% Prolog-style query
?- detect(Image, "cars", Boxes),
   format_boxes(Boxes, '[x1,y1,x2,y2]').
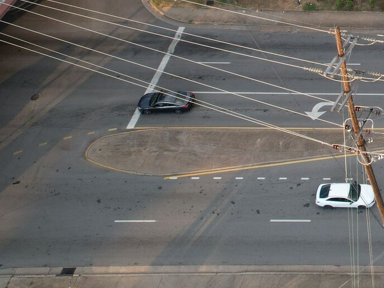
[312,184,375,213]
[135,89,194,114]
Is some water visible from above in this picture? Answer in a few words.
No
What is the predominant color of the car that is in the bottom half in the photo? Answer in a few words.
white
